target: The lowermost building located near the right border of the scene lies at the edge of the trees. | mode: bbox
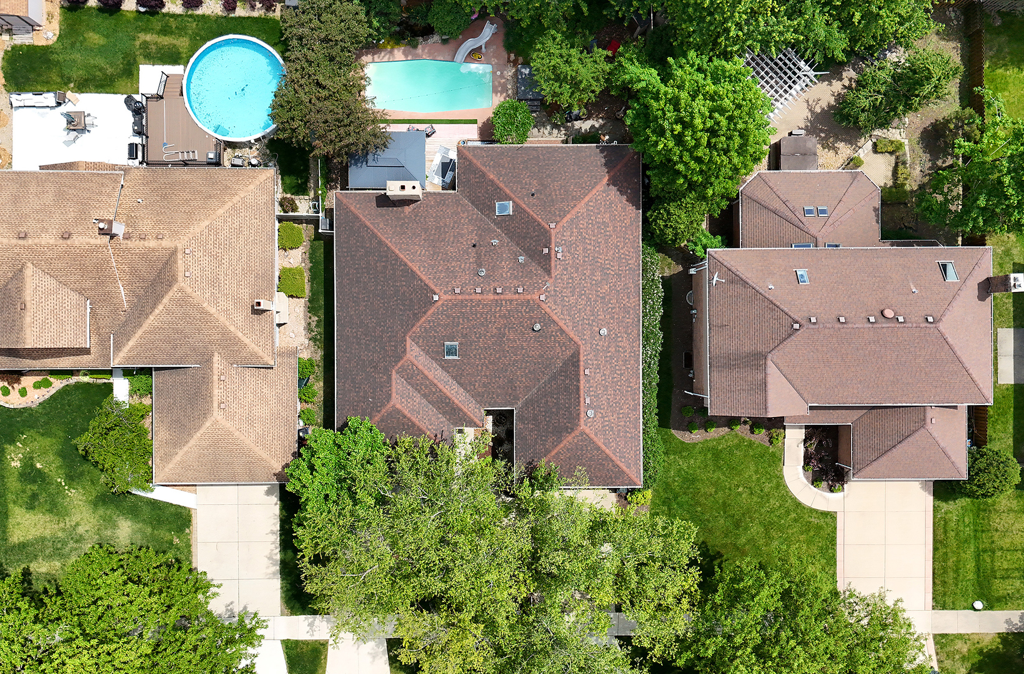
[676,170,1024,482]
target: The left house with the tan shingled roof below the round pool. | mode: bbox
[0,161,301,486]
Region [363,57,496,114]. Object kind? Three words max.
swimming pool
